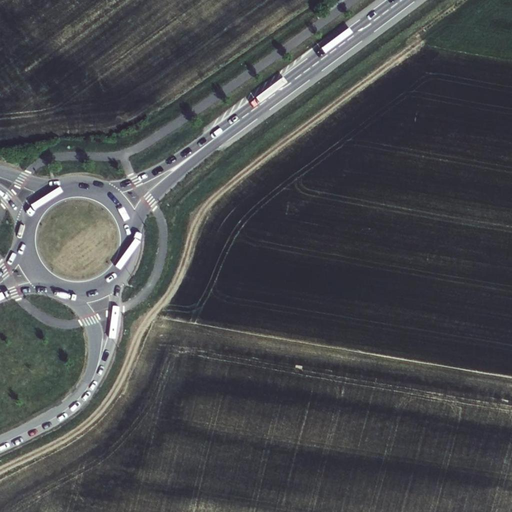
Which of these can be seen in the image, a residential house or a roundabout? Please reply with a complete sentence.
The one in the frame is a roundabout.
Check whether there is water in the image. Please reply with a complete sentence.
No, the picture contains no water.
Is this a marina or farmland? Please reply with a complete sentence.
It's farmland.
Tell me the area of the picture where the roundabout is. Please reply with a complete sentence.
You can find the roundabout in the left area of the picture.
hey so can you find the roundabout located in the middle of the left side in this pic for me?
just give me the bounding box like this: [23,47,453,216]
[14,176,142,304]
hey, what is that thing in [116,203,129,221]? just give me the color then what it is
white vehicle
